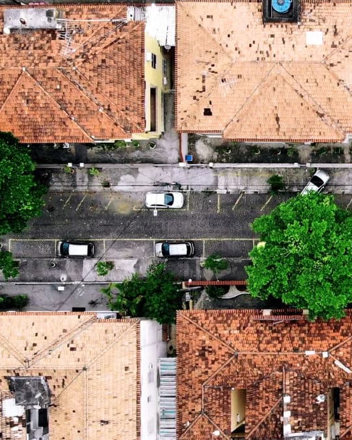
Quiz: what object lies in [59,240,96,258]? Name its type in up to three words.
car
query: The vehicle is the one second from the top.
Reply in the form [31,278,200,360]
[147,193,184,209]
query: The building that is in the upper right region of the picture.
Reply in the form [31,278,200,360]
[175,0,352,144]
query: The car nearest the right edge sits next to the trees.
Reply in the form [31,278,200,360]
[300,166,331,197]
